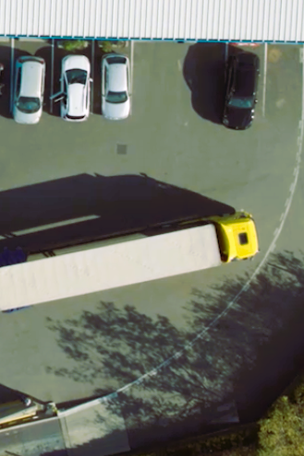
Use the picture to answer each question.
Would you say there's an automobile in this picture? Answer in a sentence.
Yes, the photo shows an automobile.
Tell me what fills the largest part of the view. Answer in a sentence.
What you mostly see from above here is paved ground.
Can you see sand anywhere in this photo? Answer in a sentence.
No, sand can't be seen anywhere here.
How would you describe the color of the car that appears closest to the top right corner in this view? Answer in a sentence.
In this view, the car that appears closest to the top right corner is black.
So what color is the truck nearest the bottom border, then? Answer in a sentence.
From above, the truck nearest the bottom border appears white.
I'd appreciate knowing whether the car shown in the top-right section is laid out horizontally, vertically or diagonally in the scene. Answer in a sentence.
The car shown in the top-right section is laid out vertically.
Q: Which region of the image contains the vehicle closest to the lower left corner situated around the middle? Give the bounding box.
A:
[0,213,260,317]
